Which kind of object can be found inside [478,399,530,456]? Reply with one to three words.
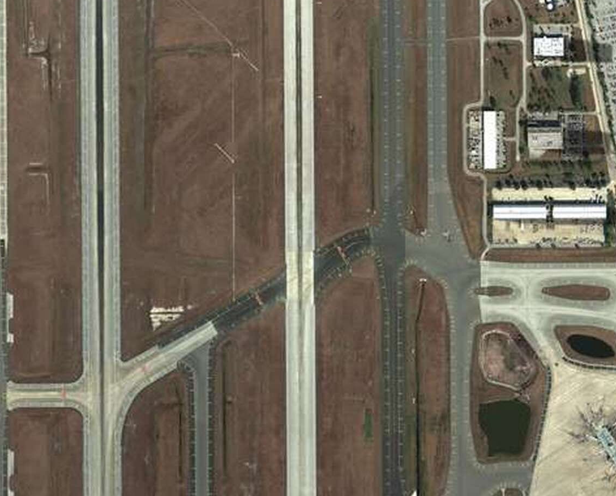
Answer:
pond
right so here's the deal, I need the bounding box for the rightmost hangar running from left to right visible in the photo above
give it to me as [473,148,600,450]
[553,205,607,221]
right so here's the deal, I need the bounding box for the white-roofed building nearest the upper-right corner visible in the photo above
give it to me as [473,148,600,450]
[534,36,564,56]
